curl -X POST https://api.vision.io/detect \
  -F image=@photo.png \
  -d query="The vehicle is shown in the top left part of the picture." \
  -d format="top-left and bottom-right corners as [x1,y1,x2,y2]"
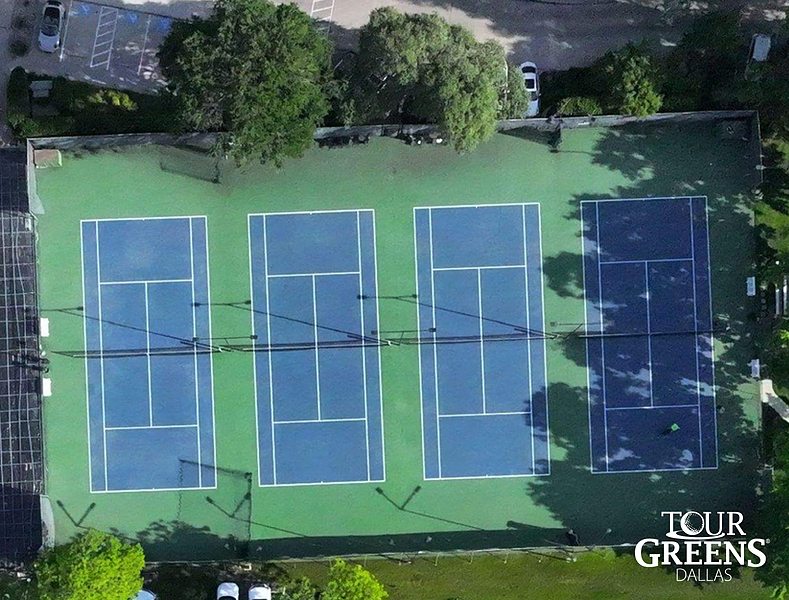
[37,0,65,54]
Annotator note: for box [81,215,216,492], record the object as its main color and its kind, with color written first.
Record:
blue tennis court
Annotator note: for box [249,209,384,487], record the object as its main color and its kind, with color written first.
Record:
blue tennis court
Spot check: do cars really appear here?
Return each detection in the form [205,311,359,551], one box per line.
[250,583,272,600]
[745,32,772,81]
[216,582,241,600]
[524,65,547,119]
[37,0,65,54]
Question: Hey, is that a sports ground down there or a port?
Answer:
sports ground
